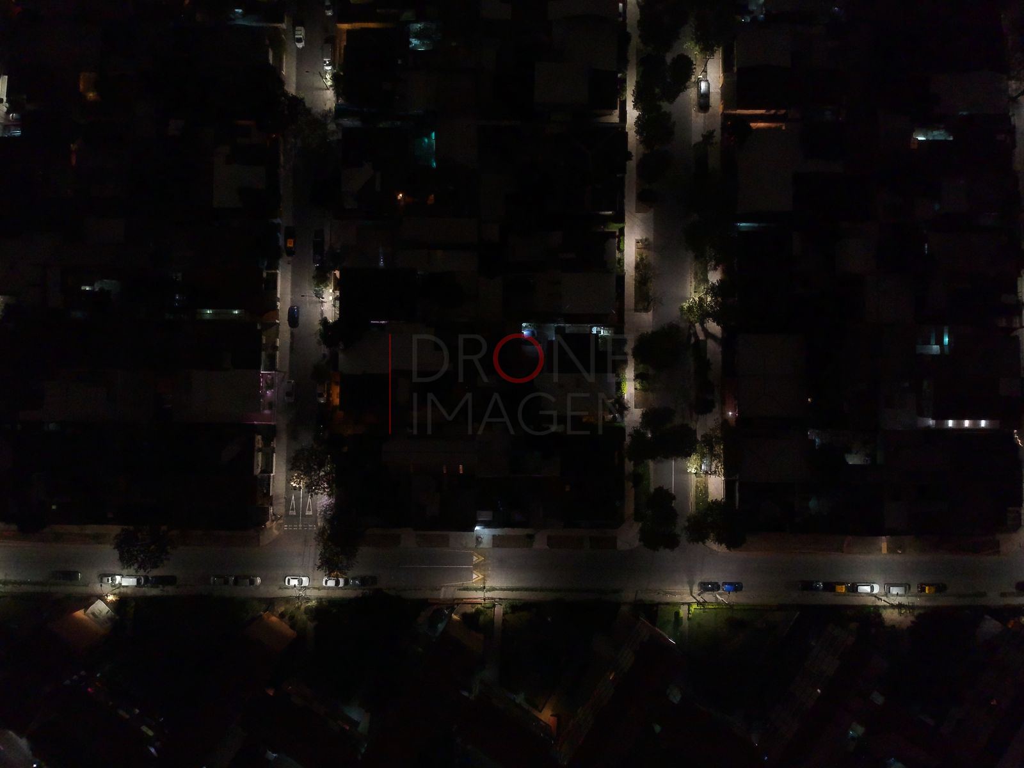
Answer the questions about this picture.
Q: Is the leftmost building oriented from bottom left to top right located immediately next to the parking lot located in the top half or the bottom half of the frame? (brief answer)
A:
bottom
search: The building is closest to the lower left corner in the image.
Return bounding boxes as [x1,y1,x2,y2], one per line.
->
[0,605,112,743]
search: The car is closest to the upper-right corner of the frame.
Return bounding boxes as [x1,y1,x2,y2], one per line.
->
[698,79,712,108]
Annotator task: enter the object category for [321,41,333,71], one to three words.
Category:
vehicle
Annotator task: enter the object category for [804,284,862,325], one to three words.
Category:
shed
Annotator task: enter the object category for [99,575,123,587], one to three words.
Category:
vehicle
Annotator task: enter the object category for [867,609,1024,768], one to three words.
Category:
building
